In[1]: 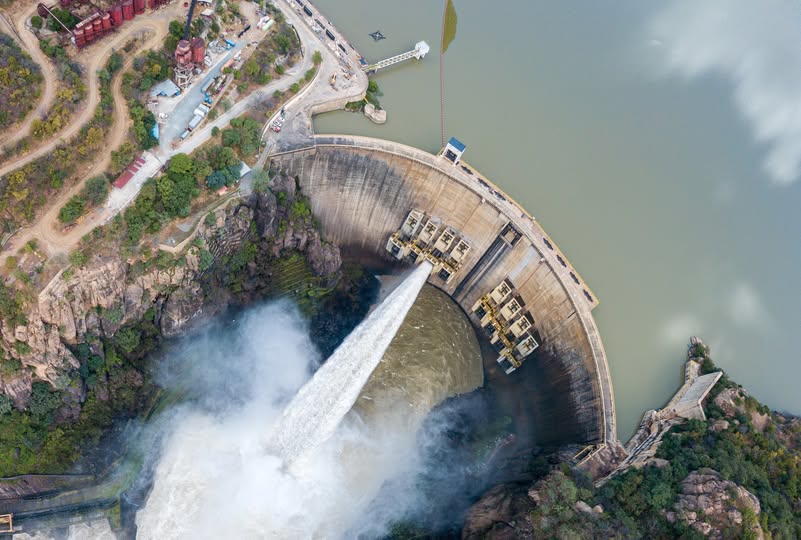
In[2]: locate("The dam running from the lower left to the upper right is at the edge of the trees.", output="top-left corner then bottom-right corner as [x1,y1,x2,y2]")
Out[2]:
[626,361,724,445]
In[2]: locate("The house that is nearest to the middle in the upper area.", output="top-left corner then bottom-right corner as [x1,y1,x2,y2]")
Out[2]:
[440,140,464,166]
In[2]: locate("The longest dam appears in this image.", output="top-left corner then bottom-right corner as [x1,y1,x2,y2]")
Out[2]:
[262,136,623,453]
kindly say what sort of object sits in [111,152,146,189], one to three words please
shed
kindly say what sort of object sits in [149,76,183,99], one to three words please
shed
